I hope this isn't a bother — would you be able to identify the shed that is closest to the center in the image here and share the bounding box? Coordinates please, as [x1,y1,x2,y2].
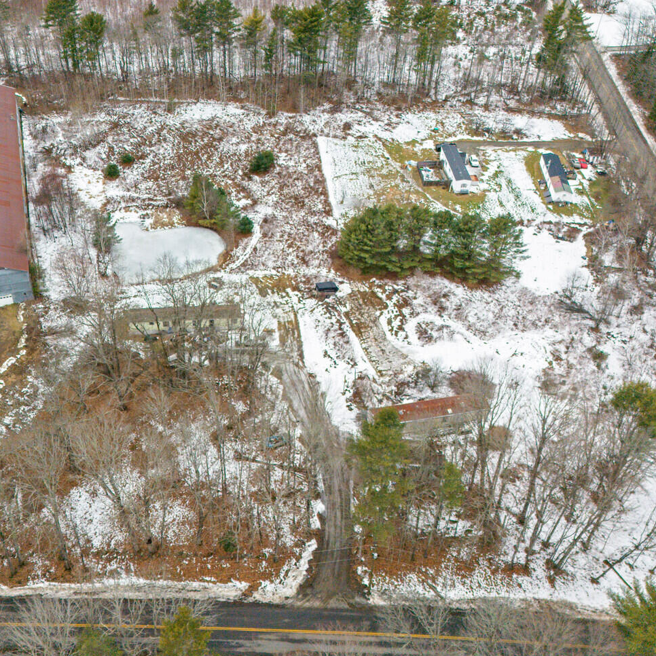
[316,281,338,299]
